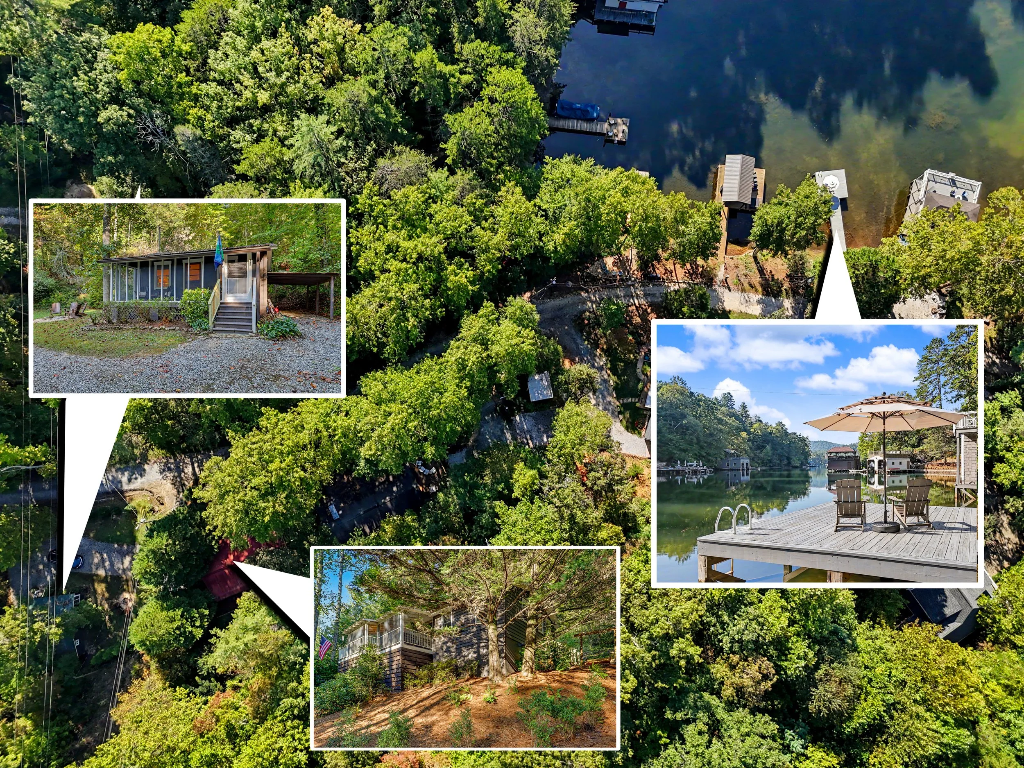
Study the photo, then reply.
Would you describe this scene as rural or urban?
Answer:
rural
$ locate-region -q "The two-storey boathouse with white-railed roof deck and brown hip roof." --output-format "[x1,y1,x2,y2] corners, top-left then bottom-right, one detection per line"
[888,169,981,229]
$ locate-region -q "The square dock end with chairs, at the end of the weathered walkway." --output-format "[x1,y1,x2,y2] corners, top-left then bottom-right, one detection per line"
[605,113,628,144]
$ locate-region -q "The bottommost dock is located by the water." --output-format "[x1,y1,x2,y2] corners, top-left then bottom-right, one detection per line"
[814,169,849,202]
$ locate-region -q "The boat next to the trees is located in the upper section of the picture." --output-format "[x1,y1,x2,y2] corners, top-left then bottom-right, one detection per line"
[553,101,599,120]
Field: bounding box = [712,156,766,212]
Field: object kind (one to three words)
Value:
building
